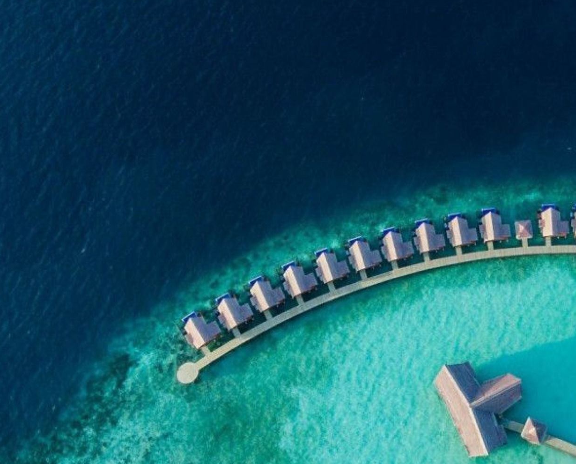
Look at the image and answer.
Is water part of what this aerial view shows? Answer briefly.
Yes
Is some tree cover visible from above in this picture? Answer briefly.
No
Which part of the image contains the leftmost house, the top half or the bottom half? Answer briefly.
bottom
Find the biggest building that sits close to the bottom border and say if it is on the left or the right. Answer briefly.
right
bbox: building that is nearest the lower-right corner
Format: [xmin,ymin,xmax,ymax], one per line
[521,415,546,443]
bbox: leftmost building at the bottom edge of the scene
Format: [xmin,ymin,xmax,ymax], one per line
[434,360,522,456]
